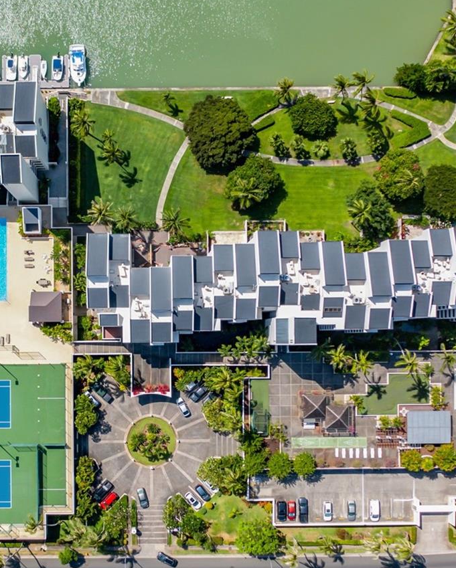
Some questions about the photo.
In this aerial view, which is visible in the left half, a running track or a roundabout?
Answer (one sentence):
There is a roundabout in the left half.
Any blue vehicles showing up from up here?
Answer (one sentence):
Yes, looking at the shot, I can spot a blue vehicle.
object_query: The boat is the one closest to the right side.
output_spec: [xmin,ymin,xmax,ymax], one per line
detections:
[70,43,87,89]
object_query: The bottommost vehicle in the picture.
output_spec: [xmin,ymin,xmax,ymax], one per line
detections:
[156,551,179,568]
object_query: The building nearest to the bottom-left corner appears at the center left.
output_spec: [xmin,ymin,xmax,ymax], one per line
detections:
[29,292,62,322]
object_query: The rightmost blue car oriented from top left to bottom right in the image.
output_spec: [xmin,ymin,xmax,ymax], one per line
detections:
[193,483,211,503]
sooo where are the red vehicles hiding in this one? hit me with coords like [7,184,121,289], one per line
[288,500,297,521]
[102,492,118,508]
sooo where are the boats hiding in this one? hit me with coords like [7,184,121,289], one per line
[6,52,17,82]
[19,52,28,78]
[52,53,64,82]
[41,61,47,78]
[70,43,87,89]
